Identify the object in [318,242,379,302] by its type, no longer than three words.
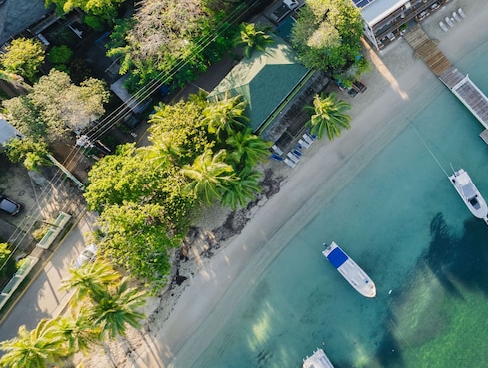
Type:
boat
